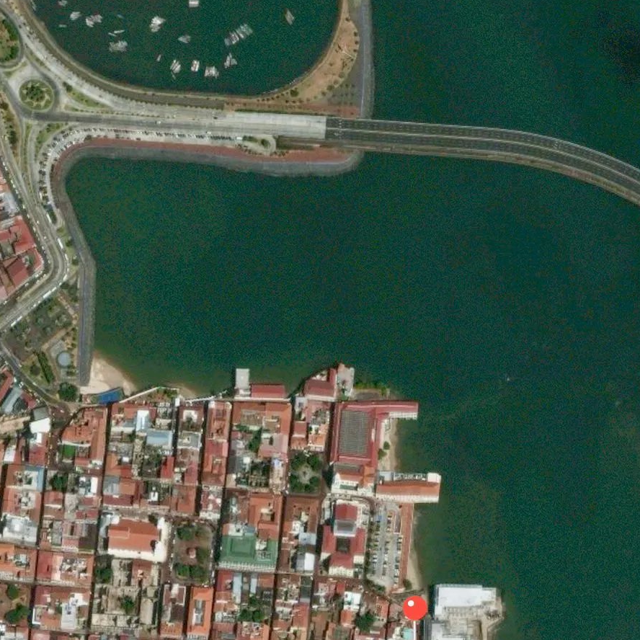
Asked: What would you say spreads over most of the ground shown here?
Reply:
water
